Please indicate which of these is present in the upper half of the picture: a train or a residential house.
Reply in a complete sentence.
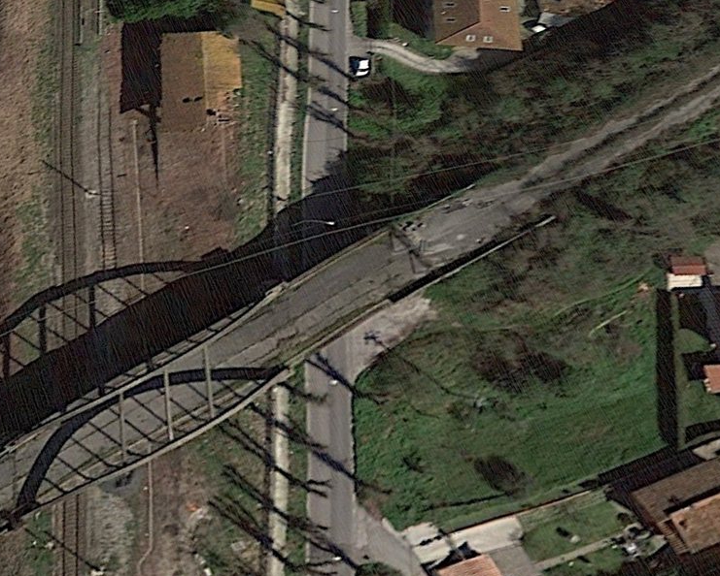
There is a residential house in the upper half of the picture.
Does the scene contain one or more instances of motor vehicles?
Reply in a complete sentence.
Yes, a motor vehicle can be made out from above.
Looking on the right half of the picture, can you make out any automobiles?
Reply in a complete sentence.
Yes, on the right half of the picture there is an automobile.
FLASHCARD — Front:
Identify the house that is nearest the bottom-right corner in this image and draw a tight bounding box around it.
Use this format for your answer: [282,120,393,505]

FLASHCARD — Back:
[622,453,720,558]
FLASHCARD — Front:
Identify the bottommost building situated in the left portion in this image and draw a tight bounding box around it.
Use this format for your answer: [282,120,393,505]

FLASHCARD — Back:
[160,31,242,130]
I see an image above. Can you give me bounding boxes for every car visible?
[523,17,552,36]
[355,54,373,79]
